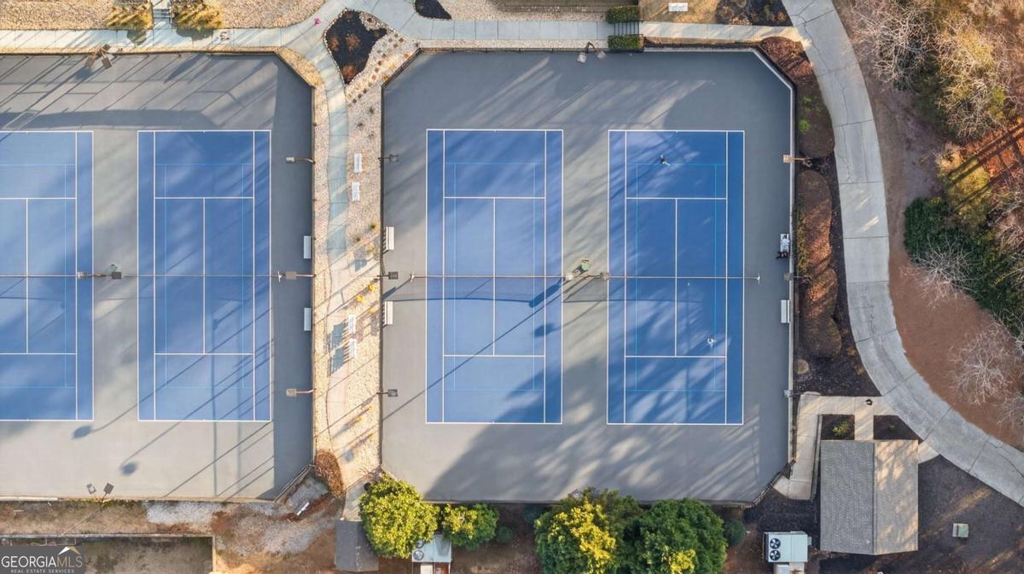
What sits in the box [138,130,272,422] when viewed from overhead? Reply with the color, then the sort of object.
blue tennis court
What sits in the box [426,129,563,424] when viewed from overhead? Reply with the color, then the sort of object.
blue tennis court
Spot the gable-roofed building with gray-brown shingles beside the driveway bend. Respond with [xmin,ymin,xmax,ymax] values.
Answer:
[820,440,918,555]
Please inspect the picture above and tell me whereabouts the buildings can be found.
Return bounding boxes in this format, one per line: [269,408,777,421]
[820,440,918,555]
[335,520,378,572]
